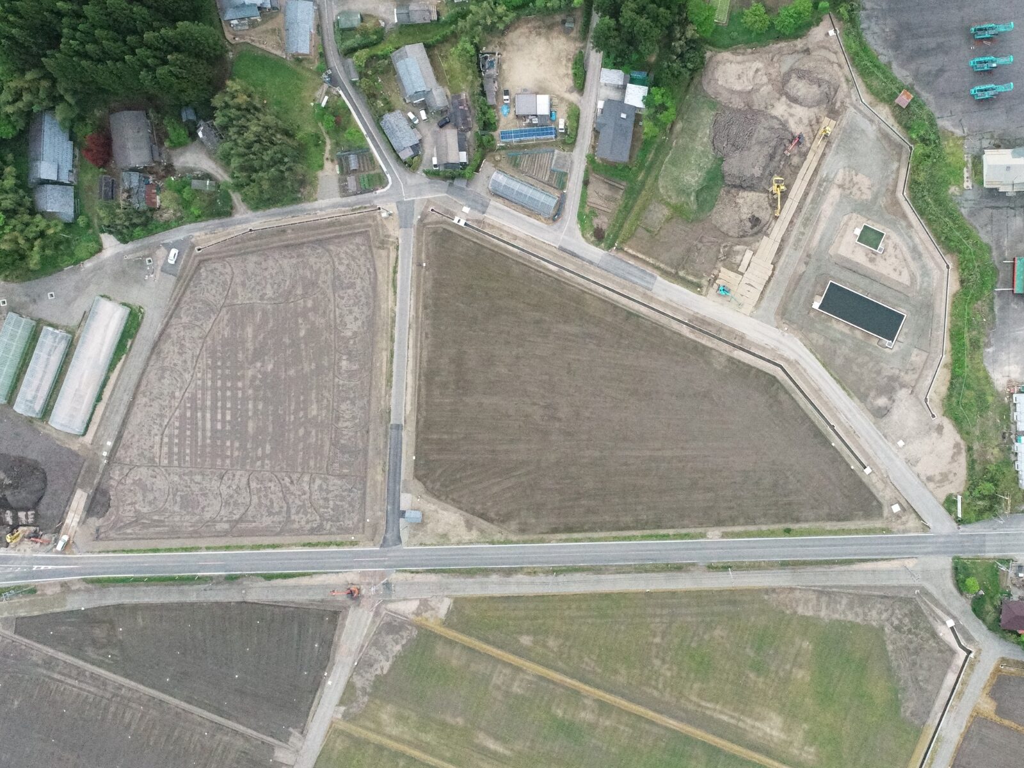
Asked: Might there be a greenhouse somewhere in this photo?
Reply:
Yes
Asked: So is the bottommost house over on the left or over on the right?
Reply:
right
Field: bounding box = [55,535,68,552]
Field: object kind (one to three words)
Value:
vehicle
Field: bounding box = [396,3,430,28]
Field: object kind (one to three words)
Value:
shed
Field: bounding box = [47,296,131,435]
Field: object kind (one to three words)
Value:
greenhouse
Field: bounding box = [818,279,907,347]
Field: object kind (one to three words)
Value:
pond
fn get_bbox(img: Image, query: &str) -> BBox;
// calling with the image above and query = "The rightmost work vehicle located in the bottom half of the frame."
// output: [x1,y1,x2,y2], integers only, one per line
[331,587,360,599]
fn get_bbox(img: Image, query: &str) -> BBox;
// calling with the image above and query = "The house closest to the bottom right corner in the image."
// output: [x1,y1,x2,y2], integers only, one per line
[991,597,1024,634]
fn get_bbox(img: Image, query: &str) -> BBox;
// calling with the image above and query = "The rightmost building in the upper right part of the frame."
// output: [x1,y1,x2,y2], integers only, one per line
[973,149,1024,197]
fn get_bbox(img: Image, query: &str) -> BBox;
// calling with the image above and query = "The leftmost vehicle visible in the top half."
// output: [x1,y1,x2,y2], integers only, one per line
[166,247,178,264]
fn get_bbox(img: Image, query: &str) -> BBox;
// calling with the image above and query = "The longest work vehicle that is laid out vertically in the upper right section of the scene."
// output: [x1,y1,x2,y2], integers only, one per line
[770,176,789,216]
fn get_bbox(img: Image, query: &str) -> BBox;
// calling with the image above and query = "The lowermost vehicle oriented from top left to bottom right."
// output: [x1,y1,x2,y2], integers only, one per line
[718,285,739,303]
